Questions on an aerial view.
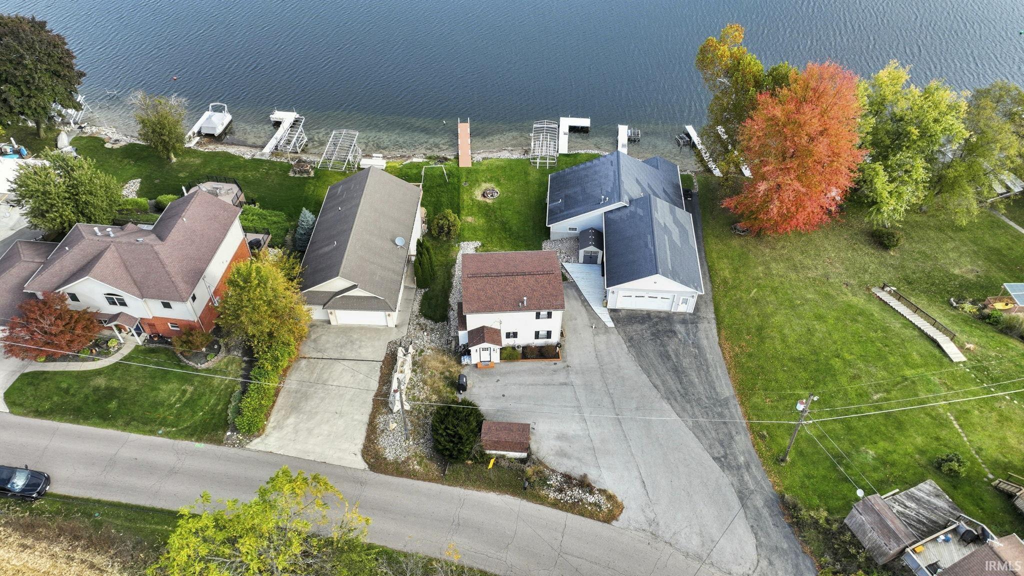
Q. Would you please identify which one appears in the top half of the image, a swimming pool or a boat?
boat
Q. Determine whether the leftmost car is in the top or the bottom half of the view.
bottom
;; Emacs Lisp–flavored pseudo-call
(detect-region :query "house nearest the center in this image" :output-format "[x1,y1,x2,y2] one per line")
[457,248,566,370]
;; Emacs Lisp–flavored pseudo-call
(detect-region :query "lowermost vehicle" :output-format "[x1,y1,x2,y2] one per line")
[0,466,55,497]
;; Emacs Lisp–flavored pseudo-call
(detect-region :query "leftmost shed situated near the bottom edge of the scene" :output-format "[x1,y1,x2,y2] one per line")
[843,494,917,565]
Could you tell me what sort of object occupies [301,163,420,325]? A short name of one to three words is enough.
house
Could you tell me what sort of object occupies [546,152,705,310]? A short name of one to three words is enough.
house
